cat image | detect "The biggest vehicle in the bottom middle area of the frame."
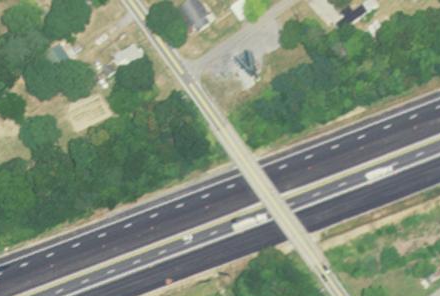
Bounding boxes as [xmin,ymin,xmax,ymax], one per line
[232,212,267,229]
